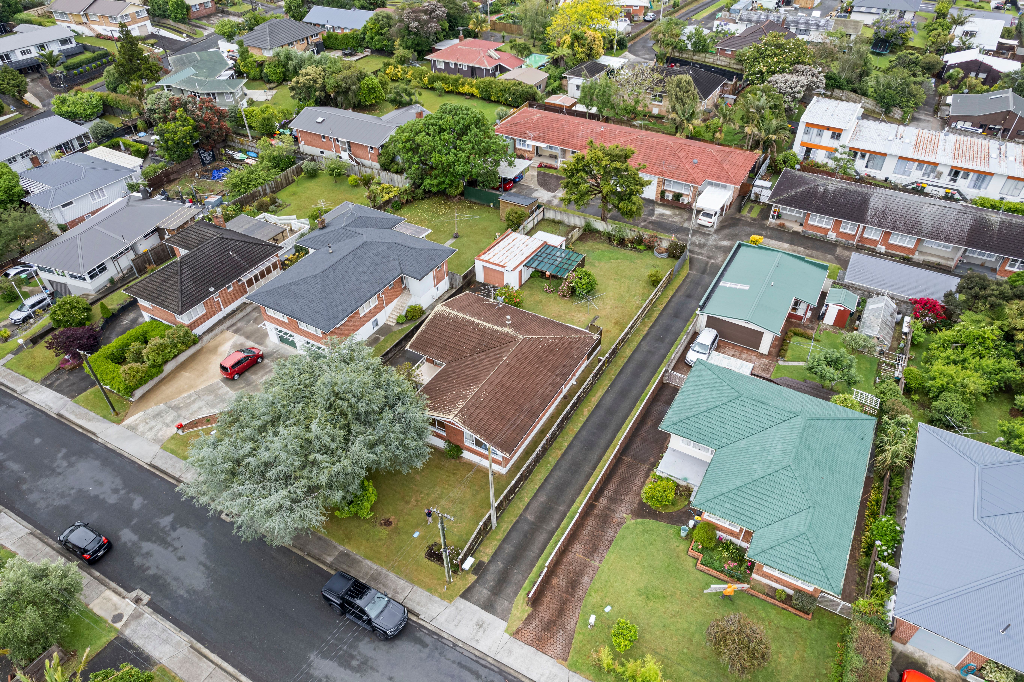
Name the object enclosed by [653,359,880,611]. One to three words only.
house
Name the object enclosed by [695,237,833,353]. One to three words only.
house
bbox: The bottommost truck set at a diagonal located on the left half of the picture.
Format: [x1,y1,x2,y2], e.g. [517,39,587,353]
[319,571,409,641]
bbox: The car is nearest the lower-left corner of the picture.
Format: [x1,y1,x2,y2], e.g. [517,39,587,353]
[52,517,110,561]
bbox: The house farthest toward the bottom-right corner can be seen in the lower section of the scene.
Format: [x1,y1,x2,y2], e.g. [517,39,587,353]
[890,422,1024,682]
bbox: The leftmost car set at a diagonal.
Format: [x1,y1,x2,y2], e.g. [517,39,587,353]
[3,289,53,323]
